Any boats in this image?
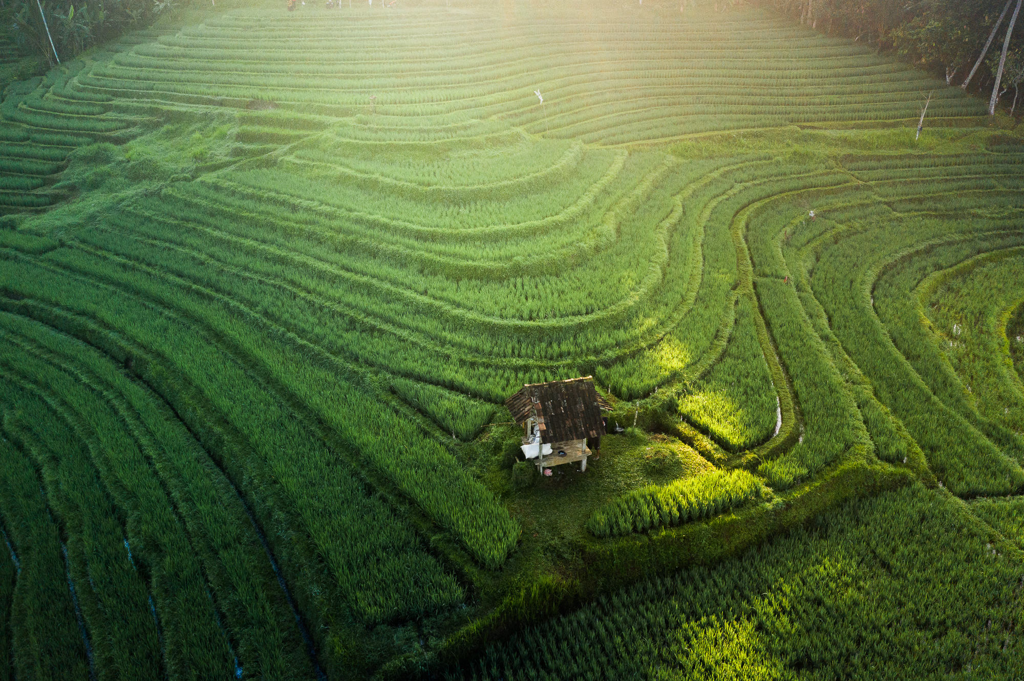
No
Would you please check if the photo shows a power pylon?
No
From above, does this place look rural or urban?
rural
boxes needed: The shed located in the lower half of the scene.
[508,372,616,475]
